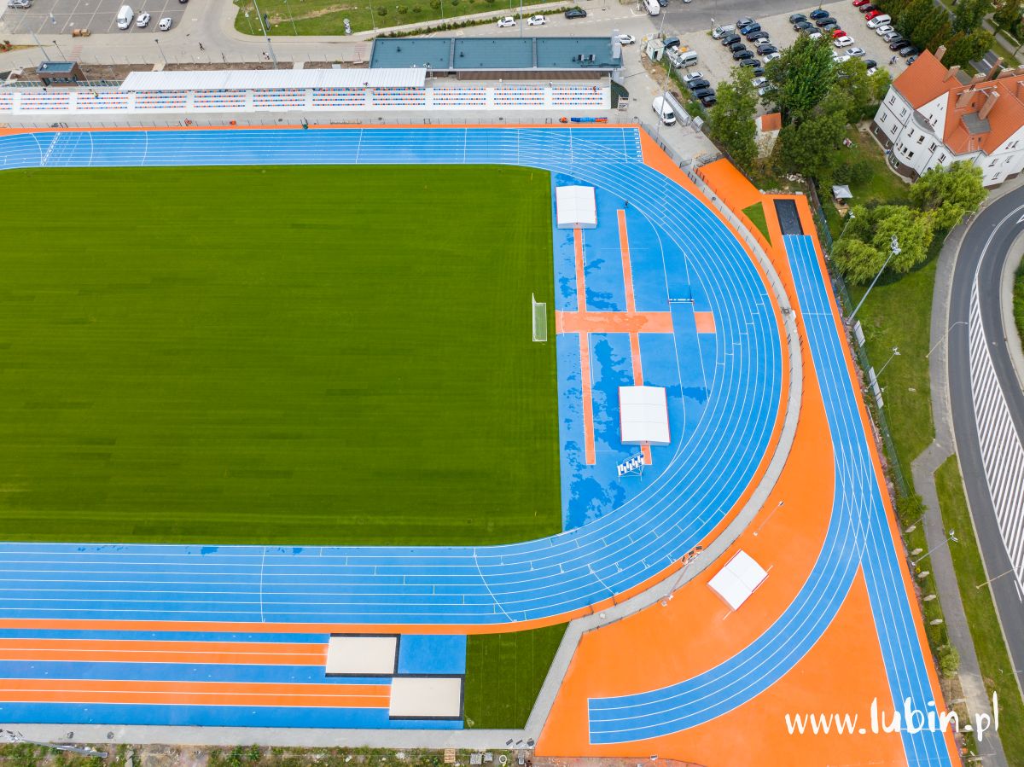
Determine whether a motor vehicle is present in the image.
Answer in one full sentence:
Yes, there's a motor vehicle here.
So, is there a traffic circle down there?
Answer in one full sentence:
No, the scene contains no traffic circle.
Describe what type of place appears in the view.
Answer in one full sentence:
What you see here is a sports ground.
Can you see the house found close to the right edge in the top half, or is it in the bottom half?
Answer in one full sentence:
It is in the top half that the house found close to the right edge appears.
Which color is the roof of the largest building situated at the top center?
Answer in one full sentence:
The roof of the largest building situated at the top center is blue.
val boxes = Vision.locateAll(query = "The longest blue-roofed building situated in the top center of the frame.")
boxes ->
[368,27,626,100]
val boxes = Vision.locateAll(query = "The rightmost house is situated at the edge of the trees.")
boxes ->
[870,47,1024,188]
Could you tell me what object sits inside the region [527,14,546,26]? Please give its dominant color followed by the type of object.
white vehicle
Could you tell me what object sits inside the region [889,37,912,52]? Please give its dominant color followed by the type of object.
black car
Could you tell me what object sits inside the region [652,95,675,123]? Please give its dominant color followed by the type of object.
white vehicle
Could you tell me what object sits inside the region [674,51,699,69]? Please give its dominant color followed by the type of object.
gray vehicle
